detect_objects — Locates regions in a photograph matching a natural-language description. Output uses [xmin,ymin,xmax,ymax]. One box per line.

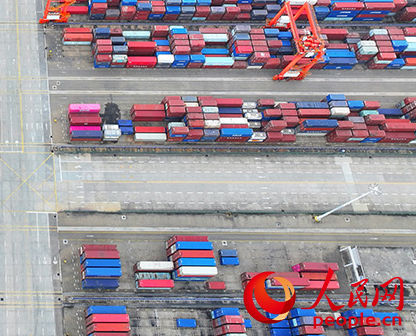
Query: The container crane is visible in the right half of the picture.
[262,0,329,77]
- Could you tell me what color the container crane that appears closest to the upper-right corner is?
red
